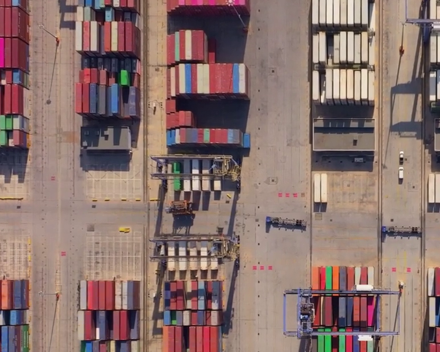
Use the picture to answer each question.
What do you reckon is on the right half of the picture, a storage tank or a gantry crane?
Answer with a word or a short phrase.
gantry crane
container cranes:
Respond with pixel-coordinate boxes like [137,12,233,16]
[406,0,440,47]
[283,285,400,341]
[149,153,241,192]
[148,231,241,268]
